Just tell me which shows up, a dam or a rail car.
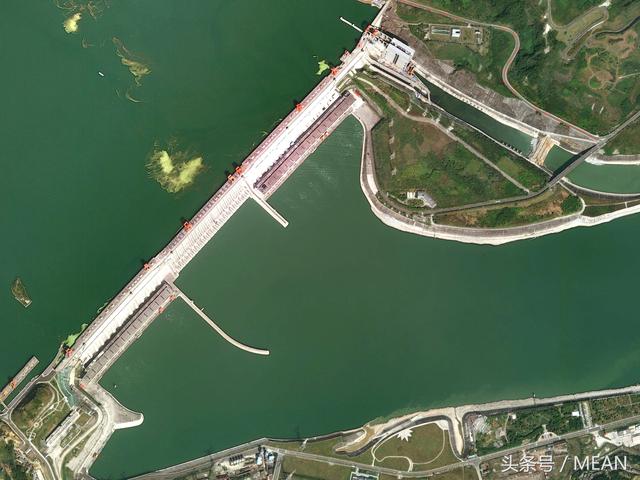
dam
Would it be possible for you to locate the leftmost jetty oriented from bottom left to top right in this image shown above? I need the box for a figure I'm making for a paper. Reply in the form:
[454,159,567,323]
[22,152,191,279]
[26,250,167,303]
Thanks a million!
[0,356,39,402]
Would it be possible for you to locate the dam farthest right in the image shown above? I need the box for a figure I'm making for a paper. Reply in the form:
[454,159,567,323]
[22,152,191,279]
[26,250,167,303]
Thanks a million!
[529,134,559,165]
